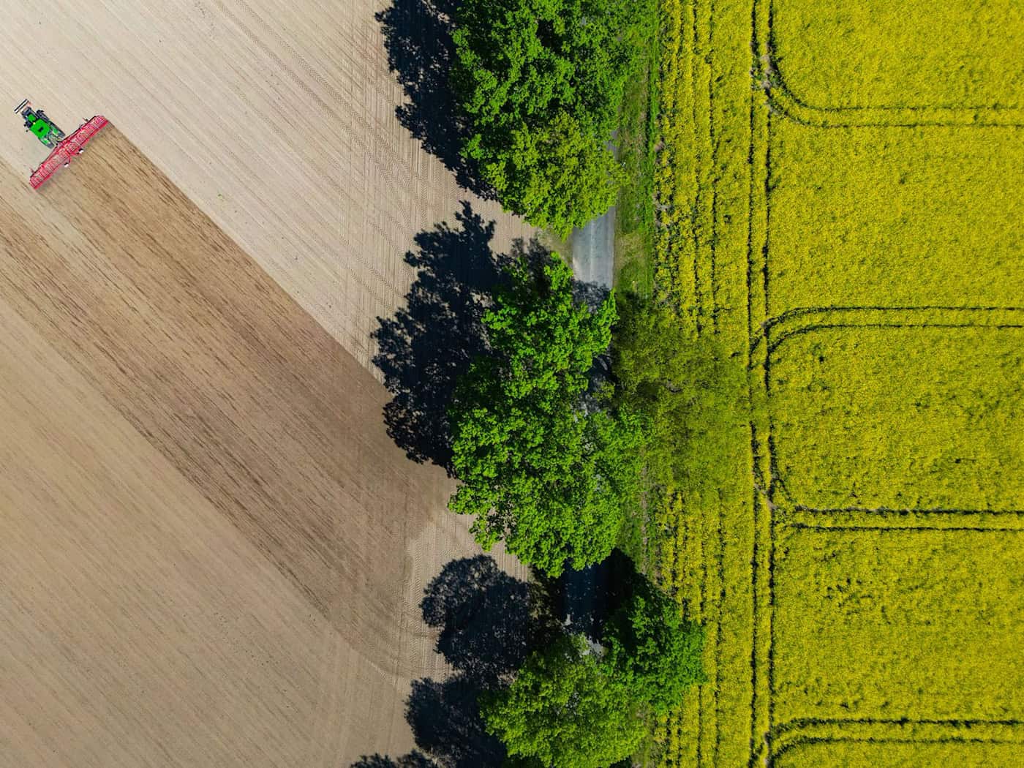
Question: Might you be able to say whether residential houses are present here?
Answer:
No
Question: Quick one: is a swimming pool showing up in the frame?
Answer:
No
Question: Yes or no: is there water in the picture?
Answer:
No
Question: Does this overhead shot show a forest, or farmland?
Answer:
farmland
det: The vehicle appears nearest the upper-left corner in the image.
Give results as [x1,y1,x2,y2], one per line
[14,100,65,151]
